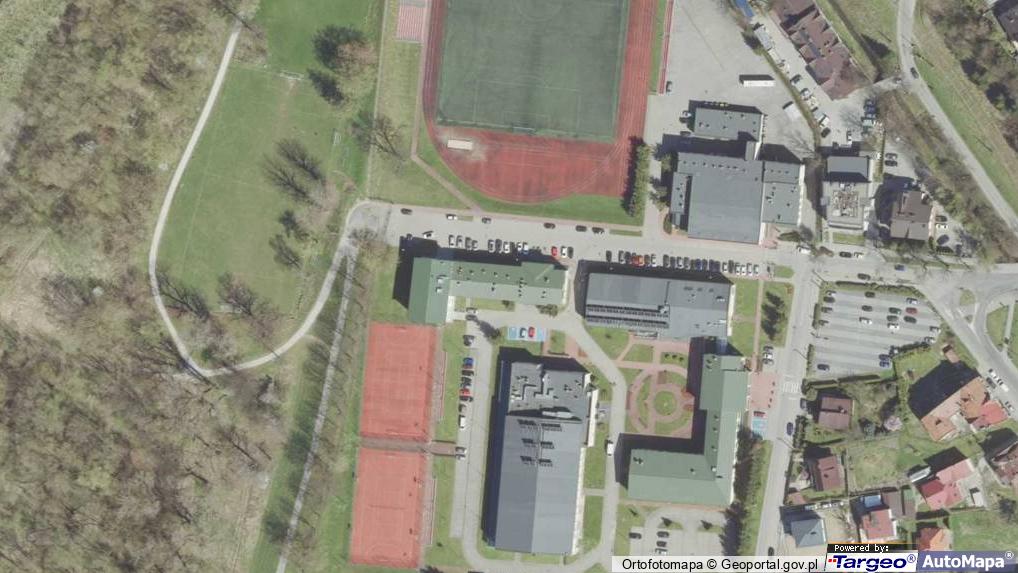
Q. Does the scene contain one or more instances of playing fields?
Yes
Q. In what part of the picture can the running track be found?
top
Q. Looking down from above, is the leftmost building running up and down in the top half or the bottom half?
bottom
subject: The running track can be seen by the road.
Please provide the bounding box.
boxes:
[422,0,657,204]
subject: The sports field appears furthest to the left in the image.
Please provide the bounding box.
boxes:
[176,62,345,316]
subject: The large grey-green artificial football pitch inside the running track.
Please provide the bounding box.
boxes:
[436,0,627,142]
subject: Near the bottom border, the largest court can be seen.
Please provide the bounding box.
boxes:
[351,449,424,568]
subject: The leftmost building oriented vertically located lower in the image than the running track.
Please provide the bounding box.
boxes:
[495,362,594,554]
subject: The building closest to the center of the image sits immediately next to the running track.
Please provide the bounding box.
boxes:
[409,258,570,324]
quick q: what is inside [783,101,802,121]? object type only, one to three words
vehicle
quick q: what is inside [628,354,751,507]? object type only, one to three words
building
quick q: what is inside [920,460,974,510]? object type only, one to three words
house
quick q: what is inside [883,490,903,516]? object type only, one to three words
shed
